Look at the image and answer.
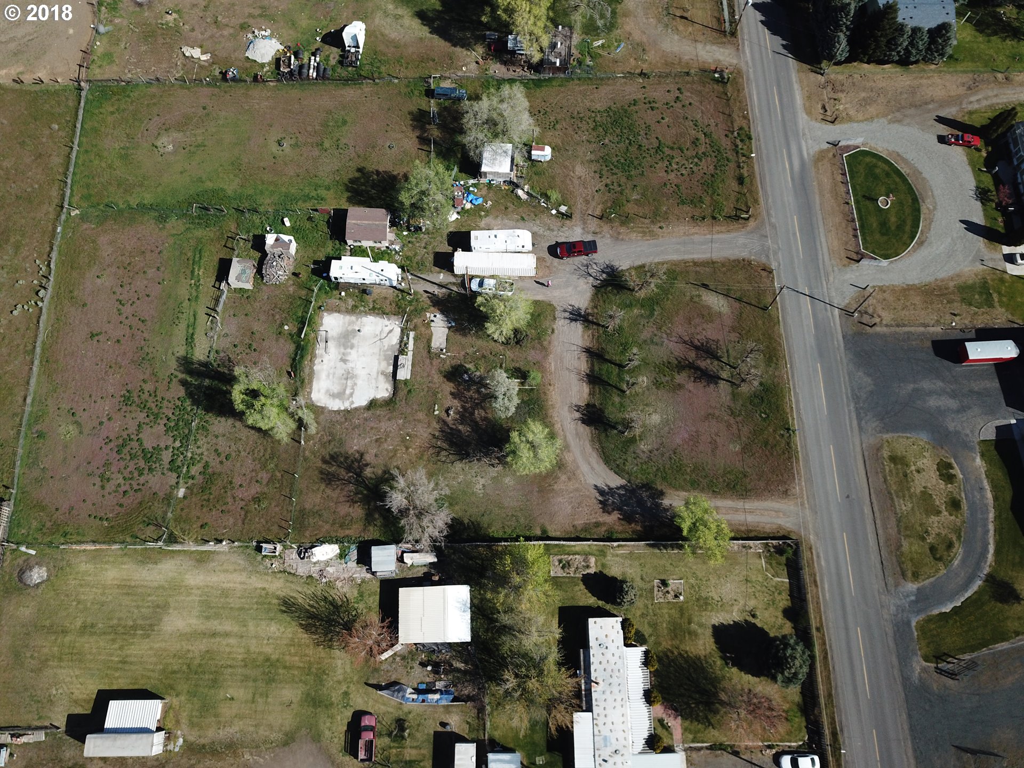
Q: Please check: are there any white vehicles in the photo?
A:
Yes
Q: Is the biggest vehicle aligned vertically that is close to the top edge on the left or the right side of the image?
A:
left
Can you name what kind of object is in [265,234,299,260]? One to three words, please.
shed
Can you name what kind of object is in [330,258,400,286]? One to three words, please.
trailer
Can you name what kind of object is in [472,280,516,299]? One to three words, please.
vehicle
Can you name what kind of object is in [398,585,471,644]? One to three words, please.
building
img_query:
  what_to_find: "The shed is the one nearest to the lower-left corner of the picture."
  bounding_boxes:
[104,700,168,732]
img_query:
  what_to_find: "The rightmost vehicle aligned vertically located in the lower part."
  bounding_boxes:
[356,713,376,765]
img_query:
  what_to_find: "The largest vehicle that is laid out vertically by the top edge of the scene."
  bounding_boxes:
[342,24,362,71]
